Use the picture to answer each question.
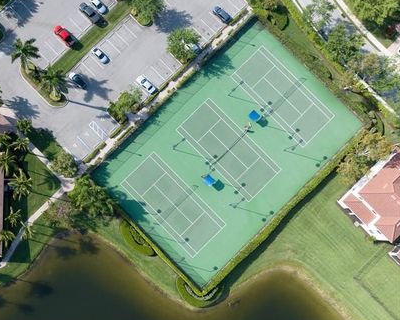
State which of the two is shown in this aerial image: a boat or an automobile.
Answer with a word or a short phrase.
automobile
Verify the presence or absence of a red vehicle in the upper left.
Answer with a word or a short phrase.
Yes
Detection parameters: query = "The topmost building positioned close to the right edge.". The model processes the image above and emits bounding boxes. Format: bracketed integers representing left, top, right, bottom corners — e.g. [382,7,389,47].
[337,152,400,242]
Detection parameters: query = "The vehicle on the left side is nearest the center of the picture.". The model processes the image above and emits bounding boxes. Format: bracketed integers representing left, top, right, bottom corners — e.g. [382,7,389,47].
[138,77,157,94]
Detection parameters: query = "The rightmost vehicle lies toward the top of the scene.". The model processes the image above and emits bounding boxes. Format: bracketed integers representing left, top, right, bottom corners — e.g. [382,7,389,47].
[214,4,233,22]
